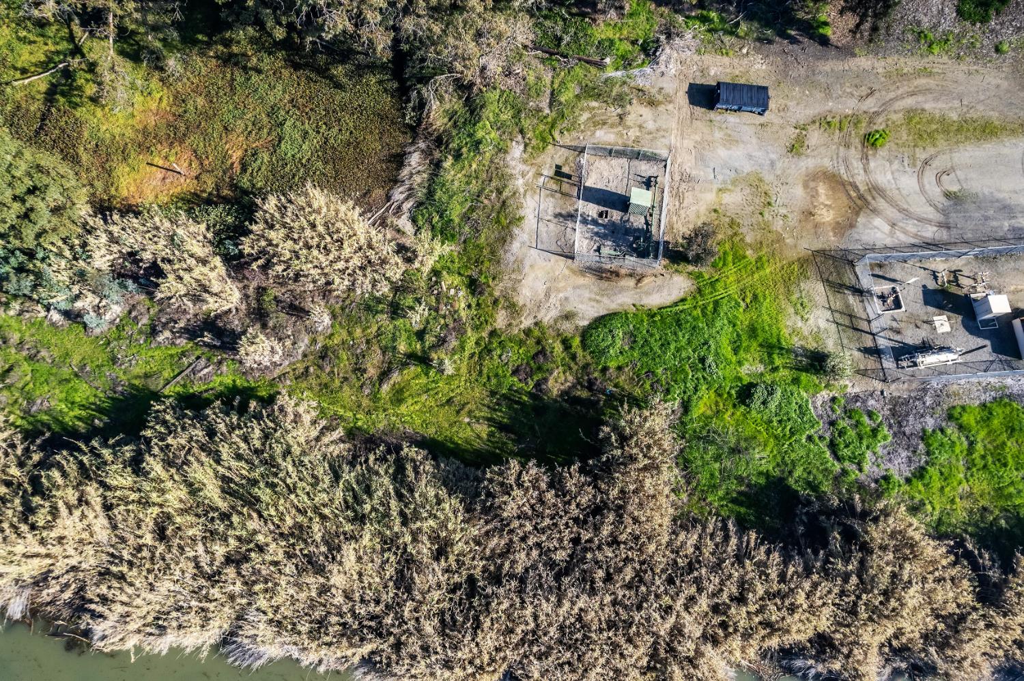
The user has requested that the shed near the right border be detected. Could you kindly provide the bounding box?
[970,289,1014,329]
